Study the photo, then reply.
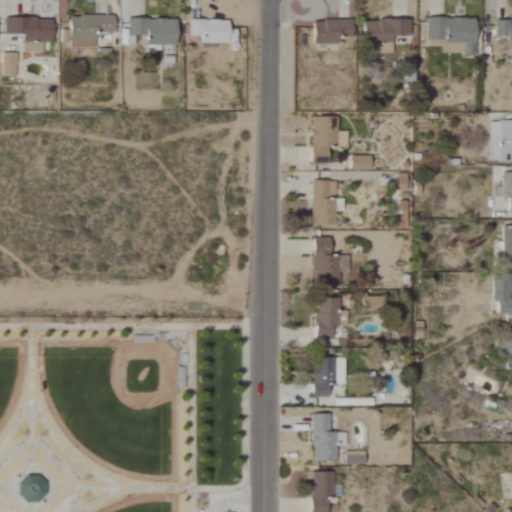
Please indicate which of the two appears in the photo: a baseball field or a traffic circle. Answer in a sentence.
The image shows a baseball field.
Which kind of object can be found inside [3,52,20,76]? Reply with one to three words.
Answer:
shed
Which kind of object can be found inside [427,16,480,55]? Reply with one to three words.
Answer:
house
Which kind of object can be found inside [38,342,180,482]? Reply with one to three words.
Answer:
baseball field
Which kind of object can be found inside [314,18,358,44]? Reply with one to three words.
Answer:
house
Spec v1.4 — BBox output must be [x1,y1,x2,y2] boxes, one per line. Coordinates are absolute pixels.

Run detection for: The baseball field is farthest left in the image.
[0,342,24,430]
